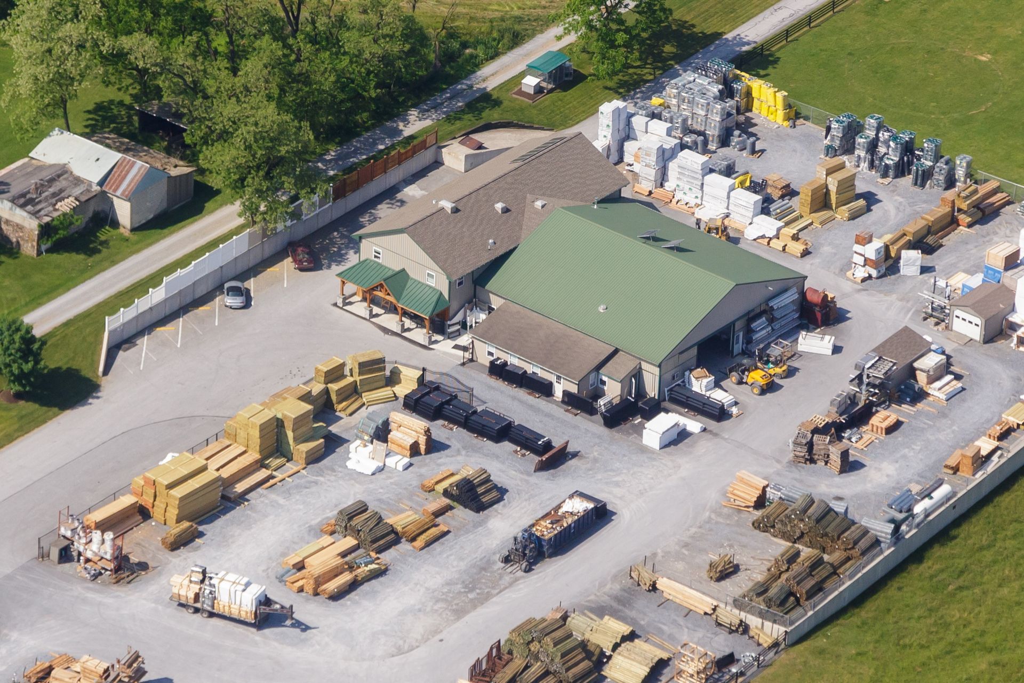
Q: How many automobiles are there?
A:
2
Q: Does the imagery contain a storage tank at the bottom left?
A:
No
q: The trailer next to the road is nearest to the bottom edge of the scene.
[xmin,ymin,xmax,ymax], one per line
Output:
[170,594,297,629]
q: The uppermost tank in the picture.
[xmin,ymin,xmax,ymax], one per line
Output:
[814,279,844,327]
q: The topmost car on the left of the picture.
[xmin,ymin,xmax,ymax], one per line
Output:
[287,241,315,272]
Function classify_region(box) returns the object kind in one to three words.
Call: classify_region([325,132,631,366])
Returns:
barn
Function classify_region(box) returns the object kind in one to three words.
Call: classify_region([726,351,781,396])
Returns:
work vehicle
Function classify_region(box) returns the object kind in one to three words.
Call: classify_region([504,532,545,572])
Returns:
work vehicle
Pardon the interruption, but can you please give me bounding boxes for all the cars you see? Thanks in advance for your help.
[223,281,246,309]
[287,241,315,272]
